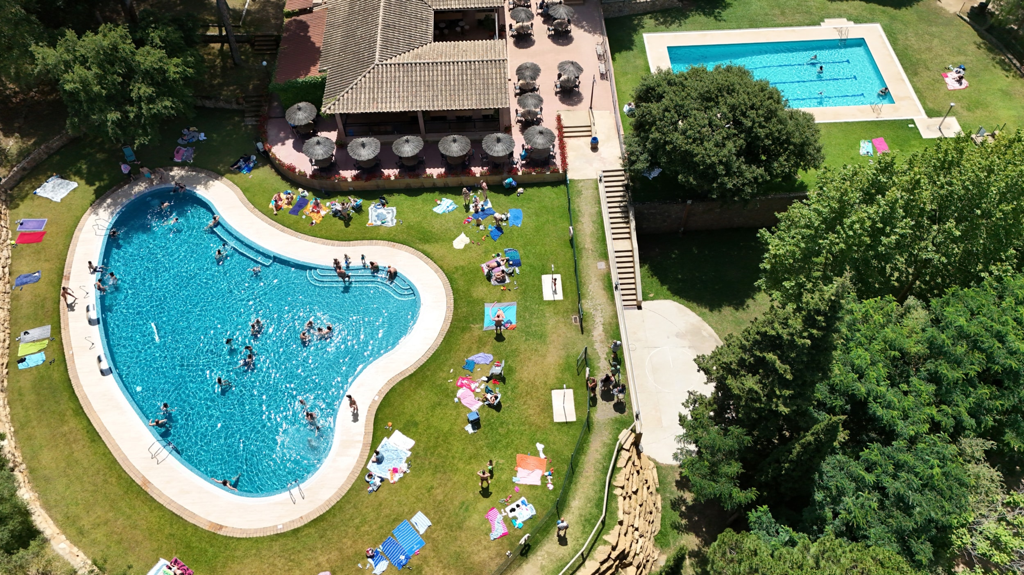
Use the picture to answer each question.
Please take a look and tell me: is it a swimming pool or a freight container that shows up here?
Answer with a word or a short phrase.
swimming pool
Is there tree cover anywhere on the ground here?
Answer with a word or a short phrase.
Yes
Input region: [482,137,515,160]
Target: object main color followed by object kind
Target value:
gray umbrella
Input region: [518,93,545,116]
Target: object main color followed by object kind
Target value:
gray umbrella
